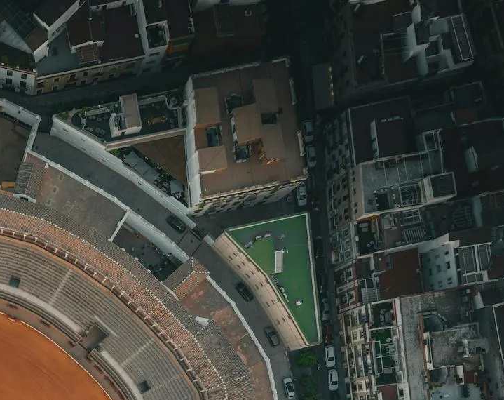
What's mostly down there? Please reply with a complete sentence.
Most of the picture is covered by buildings.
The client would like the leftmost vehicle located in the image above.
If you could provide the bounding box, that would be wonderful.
[165,215,186,234]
